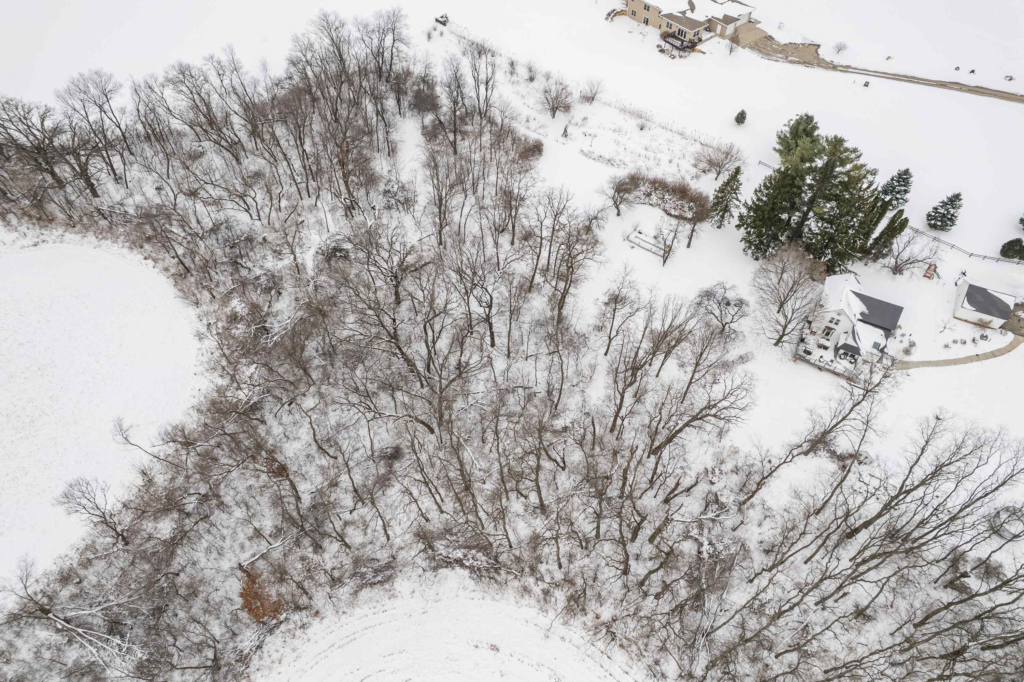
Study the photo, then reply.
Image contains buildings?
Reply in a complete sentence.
Yes, I can see a building in this picture.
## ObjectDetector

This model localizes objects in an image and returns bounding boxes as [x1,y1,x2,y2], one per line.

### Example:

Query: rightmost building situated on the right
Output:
[954,274,1018,330]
